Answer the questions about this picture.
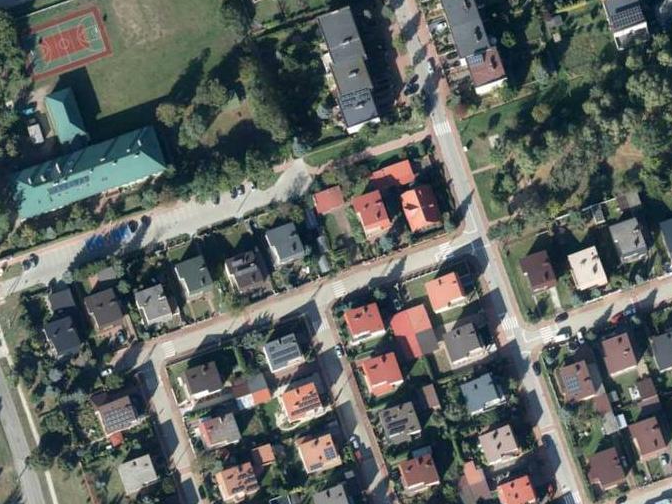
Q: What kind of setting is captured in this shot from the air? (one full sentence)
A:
What you see here is a residential area.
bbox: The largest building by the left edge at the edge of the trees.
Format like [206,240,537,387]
[12,130,165,218]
